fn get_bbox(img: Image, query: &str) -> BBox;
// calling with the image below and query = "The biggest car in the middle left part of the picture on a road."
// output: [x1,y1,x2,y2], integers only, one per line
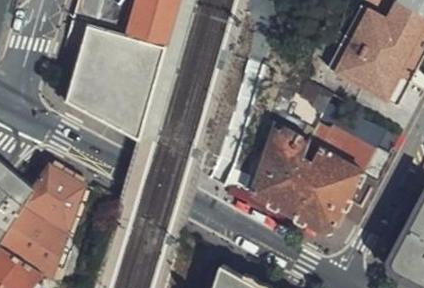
[63,128,82,142]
